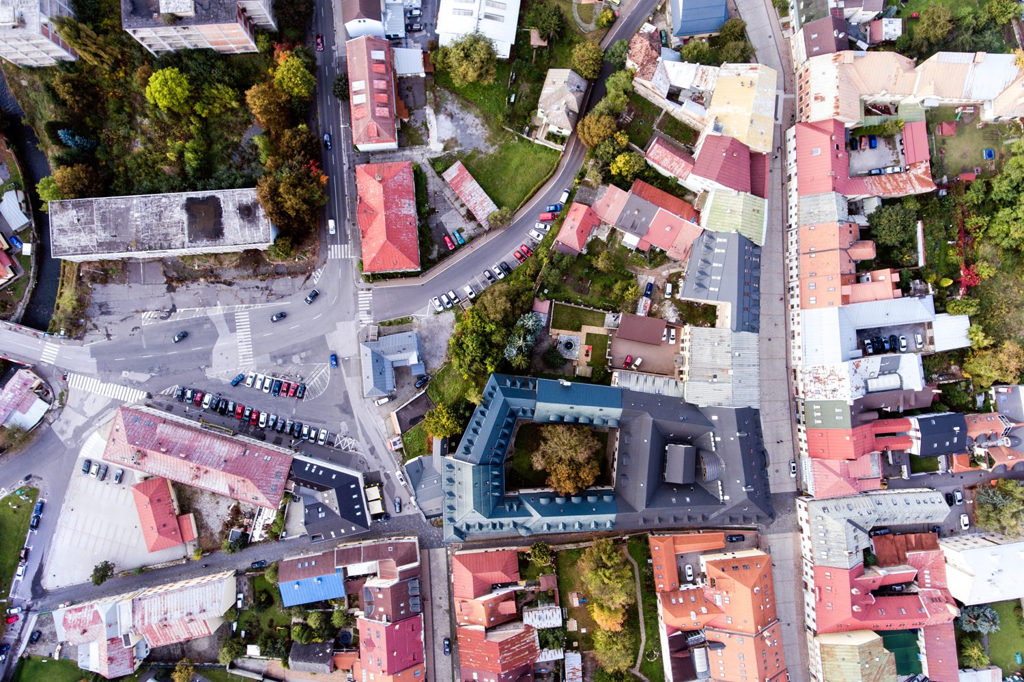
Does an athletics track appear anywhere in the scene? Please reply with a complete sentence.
No, the frame has no athletics track in it.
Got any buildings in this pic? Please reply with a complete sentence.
Yes, the frame does contain a building.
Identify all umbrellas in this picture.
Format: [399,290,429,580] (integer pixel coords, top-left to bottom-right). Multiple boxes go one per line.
[368,499,384,515]
[365,486,381,501]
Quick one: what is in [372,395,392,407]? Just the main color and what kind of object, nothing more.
white vehicle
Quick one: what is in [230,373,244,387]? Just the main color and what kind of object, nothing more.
blue car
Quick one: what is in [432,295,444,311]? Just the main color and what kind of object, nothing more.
white vehicle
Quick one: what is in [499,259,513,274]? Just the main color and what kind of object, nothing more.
black car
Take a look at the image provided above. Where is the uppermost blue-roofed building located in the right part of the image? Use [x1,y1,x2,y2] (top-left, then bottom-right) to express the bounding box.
[667,0,730,46]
